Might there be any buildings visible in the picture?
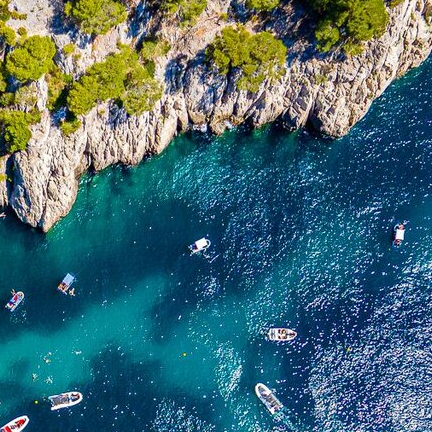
No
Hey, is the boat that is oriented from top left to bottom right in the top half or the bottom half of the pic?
bottom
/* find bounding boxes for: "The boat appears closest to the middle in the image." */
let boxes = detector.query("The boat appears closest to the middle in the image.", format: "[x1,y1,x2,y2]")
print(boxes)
[188,238,210,255]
